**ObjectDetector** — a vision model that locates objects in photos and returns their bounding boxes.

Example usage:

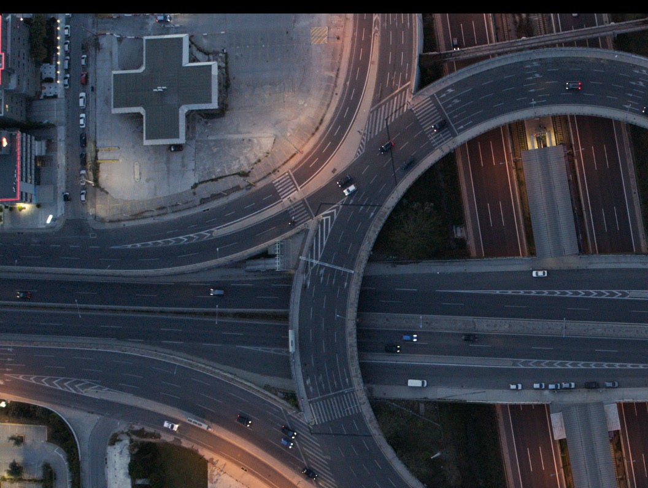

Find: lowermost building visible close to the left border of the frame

[0,130,51,207]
